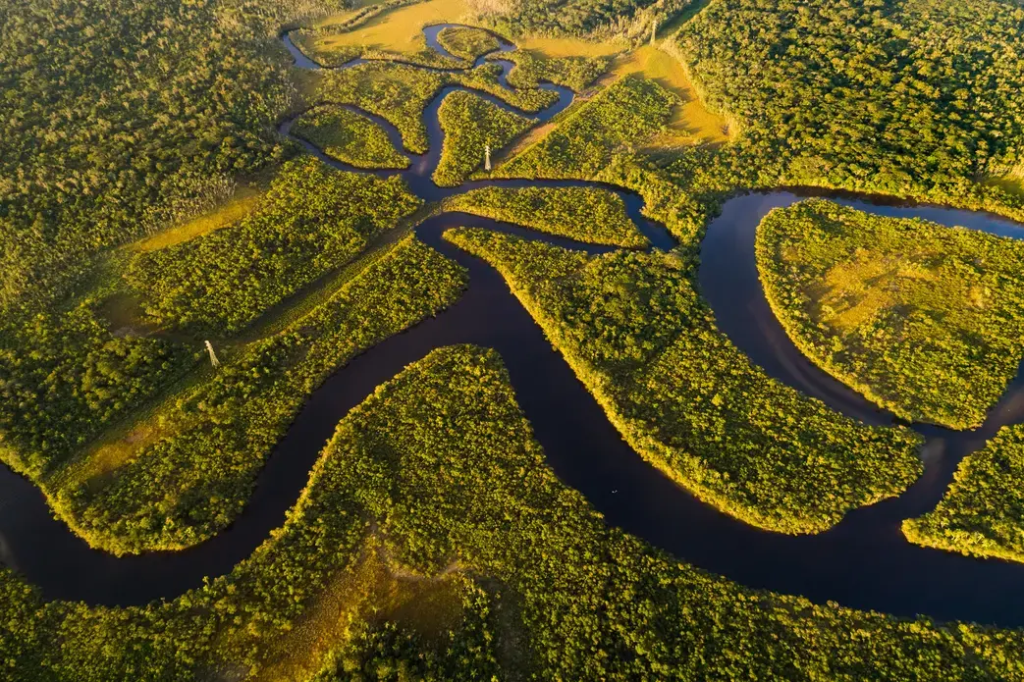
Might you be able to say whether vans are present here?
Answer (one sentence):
No, no van is visible in the scene.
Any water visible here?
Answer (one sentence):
Yes, the picture does contain water.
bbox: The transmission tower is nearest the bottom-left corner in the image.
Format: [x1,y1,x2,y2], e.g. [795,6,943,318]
[203,339,220,366]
